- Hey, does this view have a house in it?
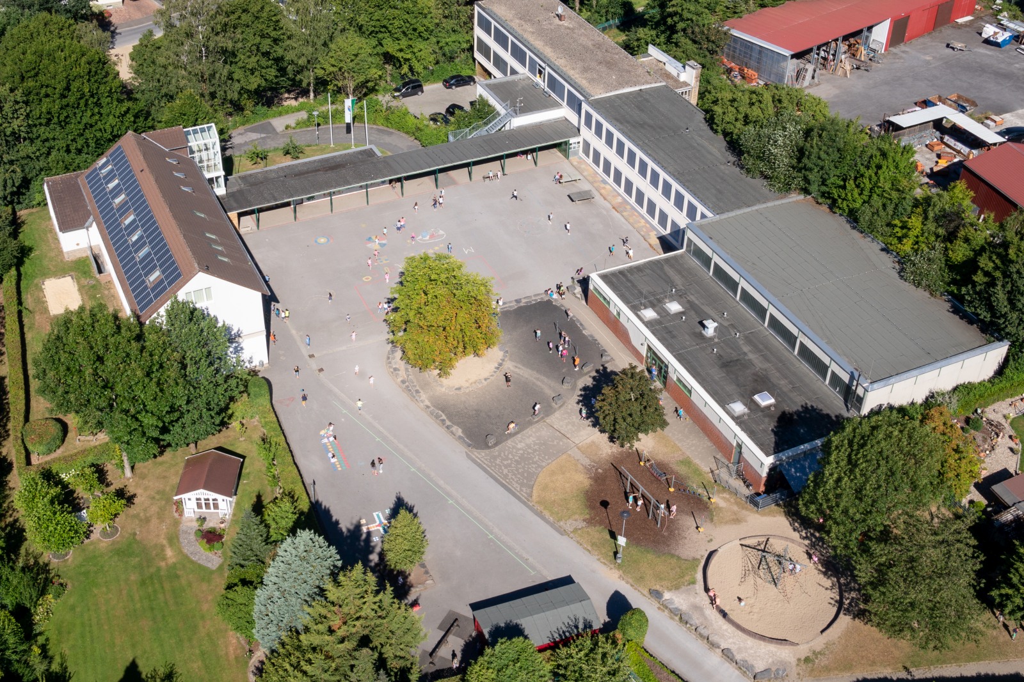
Yes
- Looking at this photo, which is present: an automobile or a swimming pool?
automobile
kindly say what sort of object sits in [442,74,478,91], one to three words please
car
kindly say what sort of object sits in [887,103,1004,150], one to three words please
shed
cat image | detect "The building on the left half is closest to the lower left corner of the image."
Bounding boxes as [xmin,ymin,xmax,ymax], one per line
[172,440,244,521]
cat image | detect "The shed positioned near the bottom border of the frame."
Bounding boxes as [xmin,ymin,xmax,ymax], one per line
[476,581,607,666]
